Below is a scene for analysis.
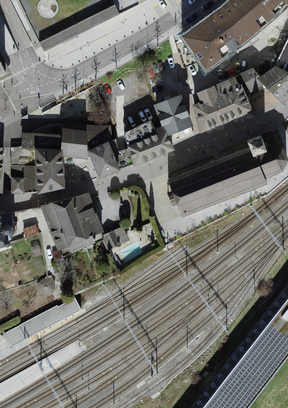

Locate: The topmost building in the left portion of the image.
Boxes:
[40,0,120,52]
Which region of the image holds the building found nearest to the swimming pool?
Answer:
center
